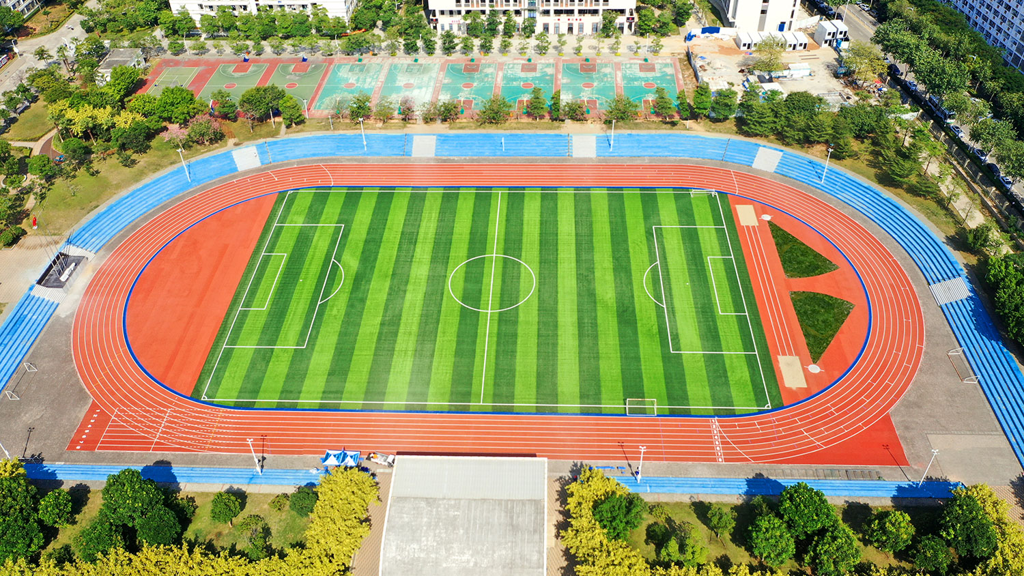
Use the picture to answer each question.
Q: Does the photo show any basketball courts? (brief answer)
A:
Yes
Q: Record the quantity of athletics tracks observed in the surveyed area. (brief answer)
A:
1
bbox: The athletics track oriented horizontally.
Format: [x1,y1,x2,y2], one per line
[65,164,923,467]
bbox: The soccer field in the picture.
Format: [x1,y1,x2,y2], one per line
[191,187,783,414]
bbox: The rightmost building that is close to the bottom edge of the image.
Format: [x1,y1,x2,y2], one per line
[378,455,549,576]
